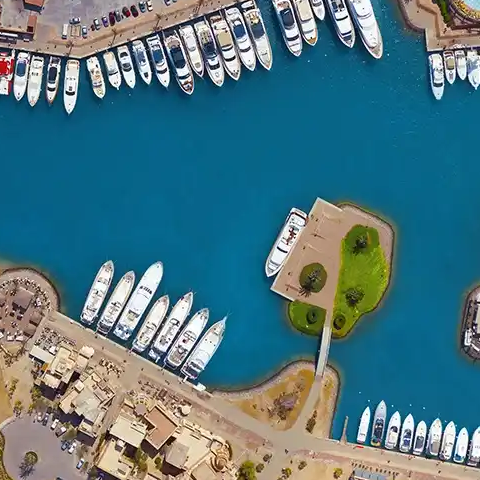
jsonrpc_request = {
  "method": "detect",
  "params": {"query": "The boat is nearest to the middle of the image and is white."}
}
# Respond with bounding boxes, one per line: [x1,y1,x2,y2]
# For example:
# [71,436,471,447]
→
[267,206,309,275]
